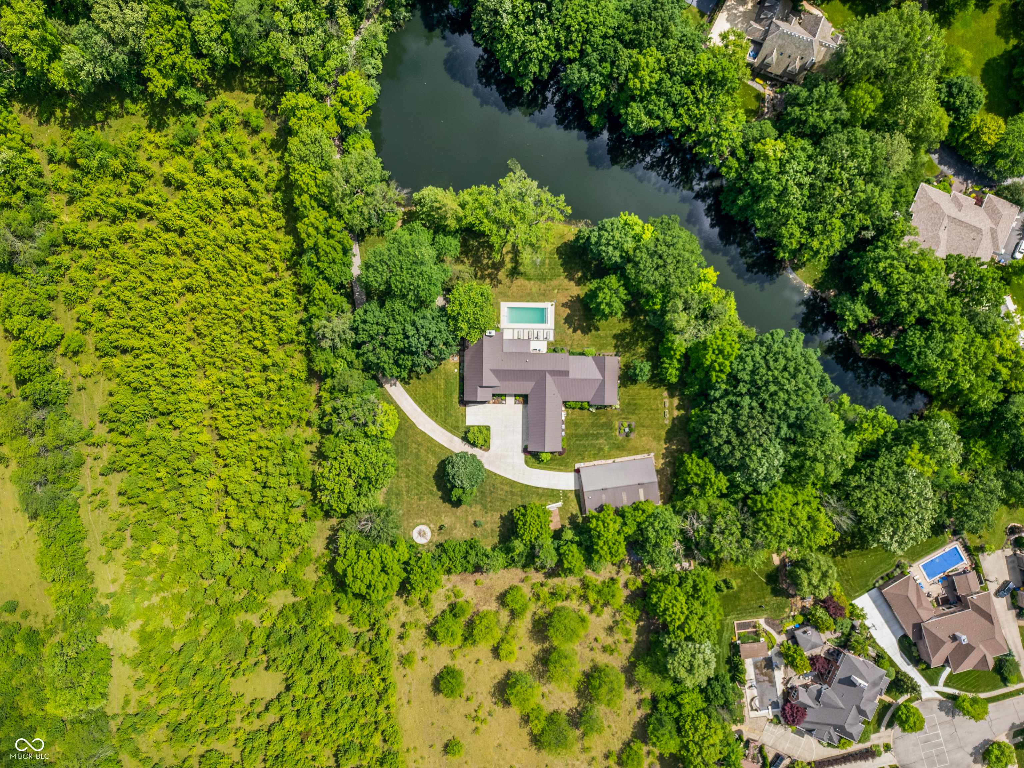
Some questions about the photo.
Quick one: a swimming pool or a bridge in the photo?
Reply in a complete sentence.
There is a swimming pool in the scene.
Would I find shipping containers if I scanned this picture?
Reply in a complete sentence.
No, there isn't any shipping container down there.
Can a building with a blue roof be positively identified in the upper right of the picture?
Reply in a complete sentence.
No, I can find no building with a blue roof in the upper right of the picture.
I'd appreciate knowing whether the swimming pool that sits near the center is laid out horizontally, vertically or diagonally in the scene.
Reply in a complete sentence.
I'd say the swimming pool that sits near the center is aligned horizontally in the picture.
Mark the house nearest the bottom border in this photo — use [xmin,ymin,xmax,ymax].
[789,647,887,746]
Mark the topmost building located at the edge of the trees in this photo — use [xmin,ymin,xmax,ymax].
[747,0,837,90]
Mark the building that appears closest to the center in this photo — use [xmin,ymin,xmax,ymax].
[464,330,619,452]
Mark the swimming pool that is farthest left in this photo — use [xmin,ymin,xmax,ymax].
[501,302,554,328]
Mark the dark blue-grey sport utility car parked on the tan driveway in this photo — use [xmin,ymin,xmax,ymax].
[994,581,1015,599]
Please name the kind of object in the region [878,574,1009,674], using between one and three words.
house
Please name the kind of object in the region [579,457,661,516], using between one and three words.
barn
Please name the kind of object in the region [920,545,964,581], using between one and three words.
swimming pool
